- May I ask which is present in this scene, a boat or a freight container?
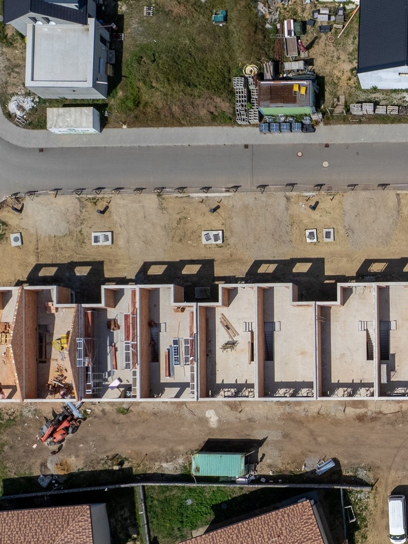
freight container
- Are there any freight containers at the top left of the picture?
Yes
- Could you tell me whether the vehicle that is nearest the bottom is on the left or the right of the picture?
right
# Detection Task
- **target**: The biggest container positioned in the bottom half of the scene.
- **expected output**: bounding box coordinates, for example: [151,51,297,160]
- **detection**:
[190,447,261,476]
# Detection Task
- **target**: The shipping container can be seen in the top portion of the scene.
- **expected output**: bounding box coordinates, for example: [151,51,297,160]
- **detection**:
[47,107,103,134]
